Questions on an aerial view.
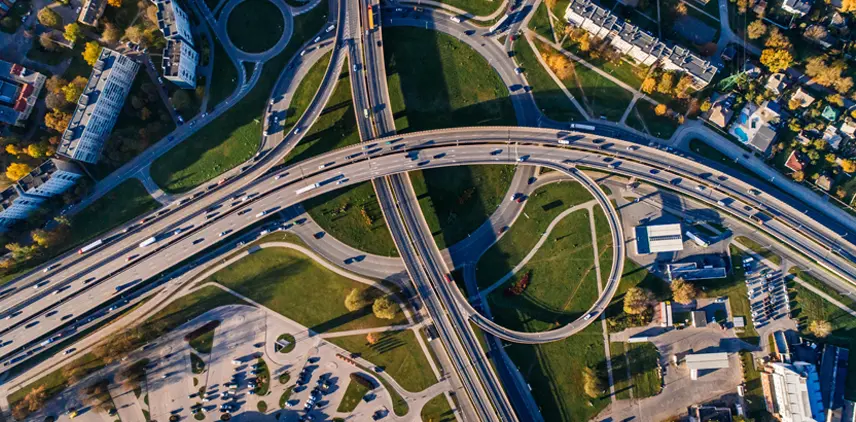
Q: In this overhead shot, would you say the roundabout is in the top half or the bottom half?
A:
top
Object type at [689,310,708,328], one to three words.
building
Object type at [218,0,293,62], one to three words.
roundabout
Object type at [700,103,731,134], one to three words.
house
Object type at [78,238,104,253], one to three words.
vehicle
